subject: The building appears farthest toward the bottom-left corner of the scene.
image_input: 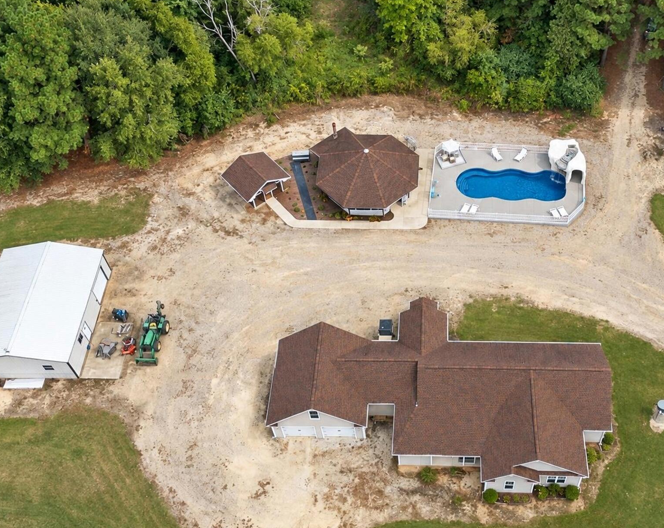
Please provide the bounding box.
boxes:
[0,241,114,379]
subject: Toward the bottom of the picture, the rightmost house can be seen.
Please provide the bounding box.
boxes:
[265,297,613,493]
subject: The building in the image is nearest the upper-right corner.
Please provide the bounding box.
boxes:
[308,118,422,218]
